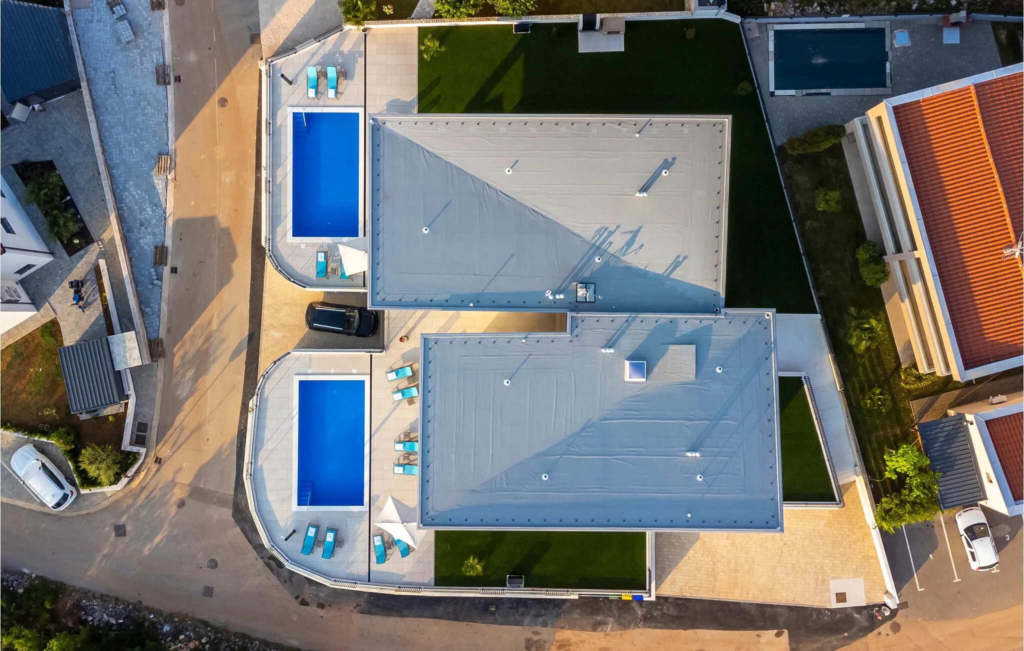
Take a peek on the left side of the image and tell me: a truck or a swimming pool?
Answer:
swimming pool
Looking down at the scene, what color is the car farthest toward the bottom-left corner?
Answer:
white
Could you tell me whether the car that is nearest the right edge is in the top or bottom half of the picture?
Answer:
bottom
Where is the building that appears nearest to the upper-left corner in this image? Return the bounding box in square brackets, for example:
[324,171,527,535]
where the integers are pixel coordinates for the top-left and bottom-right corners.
[0,0,83,103]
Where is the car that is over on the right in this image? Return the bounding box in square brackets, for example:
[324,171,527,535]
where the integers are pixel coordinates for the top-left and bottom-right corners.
[957,509,1004,575]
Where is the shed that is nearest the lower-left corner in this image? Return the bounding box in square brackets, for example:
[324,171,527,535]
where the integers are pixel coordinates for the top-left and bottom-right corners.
[56,337,138,414]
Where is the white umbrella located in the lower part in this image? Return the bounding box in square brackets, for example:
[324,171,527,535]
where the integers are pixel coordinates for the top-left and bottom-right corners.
[373,495,419,551]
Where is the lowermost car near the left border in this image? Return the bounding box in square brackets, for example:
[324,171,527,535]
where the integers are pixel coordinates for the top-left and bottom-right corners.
[8,442,74,515]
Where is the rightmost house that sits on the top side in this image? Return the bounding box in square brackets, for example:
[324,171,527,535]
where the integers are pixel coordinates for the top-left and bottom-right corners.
[822,61,1024,381]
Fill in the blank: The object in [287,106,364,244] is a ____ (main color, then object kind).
blue swimming pool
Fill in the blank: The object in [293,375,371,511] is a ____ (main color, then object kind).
blue swimming pool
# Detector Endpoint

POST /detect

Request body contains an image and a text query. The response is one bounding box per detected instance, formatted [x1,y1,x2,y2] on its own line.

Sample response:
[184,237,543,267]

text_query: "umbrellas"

[338,239,368,276]
[373,495,419,551]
